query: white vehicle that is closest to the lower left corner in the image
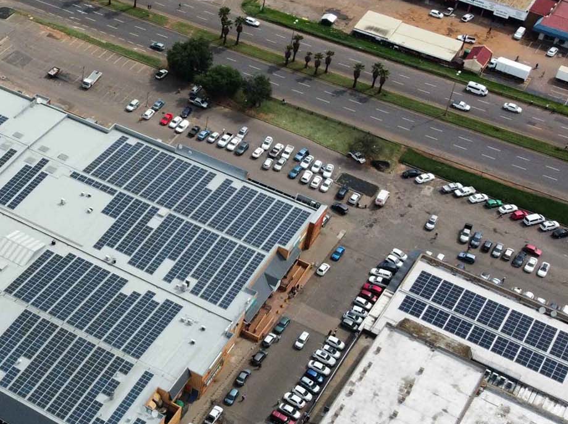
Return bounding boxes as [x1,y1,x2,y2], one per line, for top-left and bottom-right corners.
[204,406,223,424]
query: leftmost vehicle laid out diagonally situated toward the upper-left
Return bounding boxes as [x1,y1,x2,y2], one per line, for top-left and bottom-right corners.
[83,73,102,88]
